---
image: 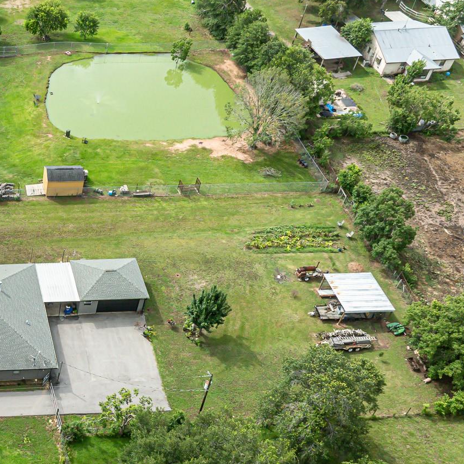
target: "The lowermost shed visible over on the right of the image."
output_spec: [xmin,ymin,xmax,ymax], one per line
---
[314,272,395,325]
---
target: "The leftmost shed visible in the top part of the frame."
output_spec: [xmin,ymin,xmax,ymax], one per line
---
[31,169,88,196]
